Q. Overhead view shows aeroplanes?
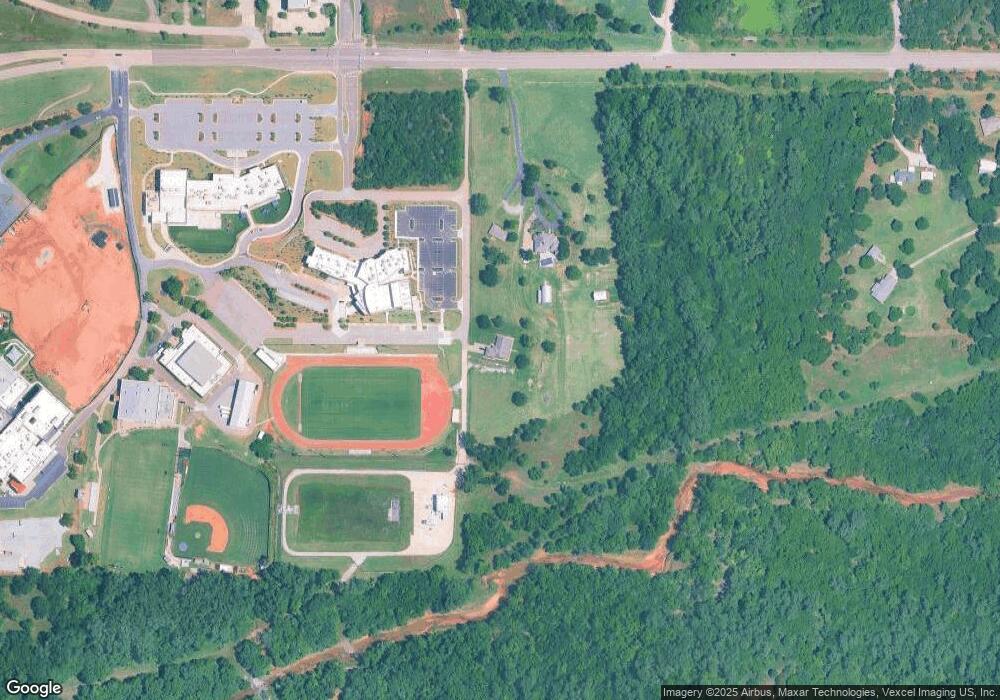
No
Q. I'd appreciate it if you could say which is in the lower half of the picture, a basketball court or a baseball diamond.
baseball diamond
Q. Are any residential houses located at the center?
Yes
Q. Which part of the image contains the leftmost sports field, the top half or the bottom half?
bottom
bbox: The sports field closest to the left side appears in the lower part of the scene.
[101,428,179,571]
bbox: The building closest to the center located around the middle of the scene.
[487,336,514,359]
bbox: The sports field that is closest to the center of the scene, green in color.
[301,367,421,440]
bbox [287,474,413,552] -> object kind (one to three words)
sports field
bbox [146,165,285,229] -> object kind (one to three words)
building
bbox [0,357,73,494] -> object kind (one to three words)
building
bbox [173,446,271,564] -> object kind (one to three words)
baseball field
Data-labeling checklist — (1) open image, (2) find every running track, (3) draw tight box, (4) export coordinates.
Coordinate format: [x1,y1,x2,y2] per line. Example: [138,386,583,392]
[271,356,453,448]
